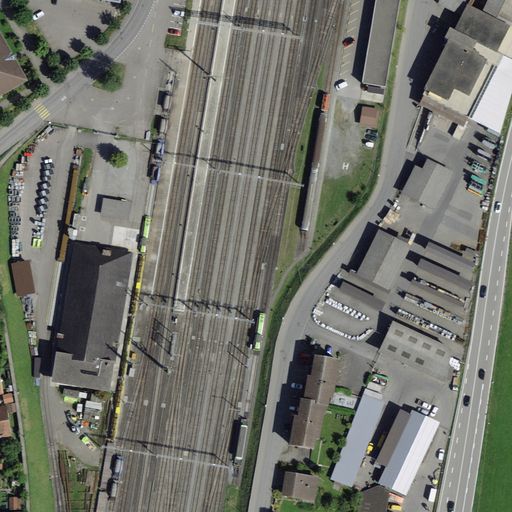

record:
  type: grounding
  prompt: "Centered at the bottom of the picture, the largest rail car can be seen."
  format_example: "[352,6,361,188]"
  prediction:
[234,418,248,462]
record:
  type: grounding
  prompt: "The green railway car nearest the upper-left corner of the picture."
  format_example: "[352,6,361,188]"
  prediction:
[139,214,152,254]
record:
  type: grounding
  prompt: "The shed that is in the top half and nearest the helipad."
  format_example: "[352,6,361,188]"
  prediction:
[360,106,379,128]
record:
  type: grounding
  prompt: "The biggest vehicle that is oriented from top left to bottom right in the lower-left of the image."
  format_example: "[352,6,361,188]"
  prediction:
[79,433,99,452]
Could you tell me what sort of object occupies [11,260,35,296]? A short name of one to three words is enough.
shed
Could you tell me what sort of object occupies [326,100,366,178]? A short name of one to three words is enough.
helipad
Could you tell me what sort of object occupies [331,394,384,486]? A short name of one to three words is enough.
building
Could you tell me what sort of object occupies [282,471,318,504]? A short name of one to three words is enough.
house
